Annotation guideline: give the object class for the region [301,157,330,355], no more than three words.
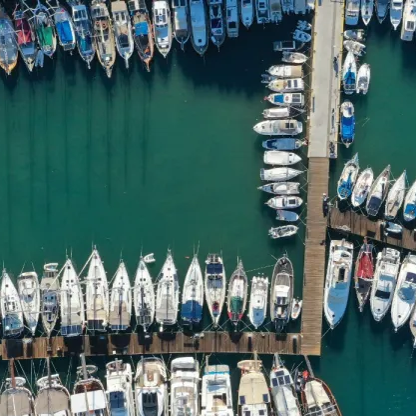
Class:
pier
